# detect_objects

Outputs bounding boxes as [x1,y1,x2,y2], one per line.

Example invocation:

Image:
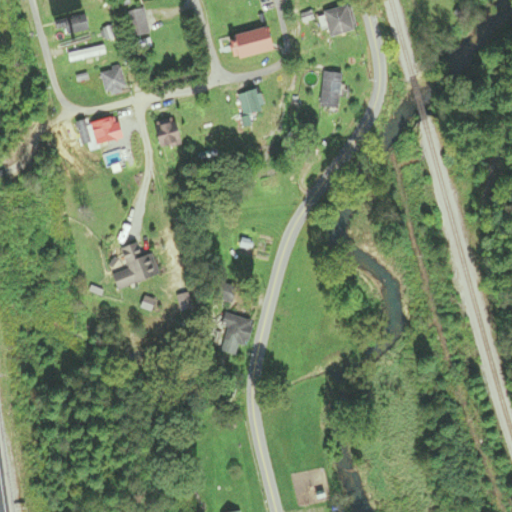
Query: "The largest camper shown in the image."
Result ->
[118,223,130,245]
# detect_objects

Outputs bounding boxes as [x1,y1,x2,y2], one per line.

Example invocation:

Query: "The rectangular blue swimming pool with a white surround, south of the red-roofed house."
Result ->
[104,149,123,166]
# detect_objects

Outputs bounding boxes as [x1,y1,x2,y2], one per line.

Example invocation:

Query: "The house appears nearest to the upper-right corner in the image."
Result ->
[318,3,355,34]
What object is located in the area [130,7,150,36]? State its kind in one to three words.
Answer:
house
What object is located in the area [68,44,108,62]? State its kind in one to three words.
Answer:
house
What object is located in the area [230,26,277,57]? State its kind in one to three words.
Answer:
building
